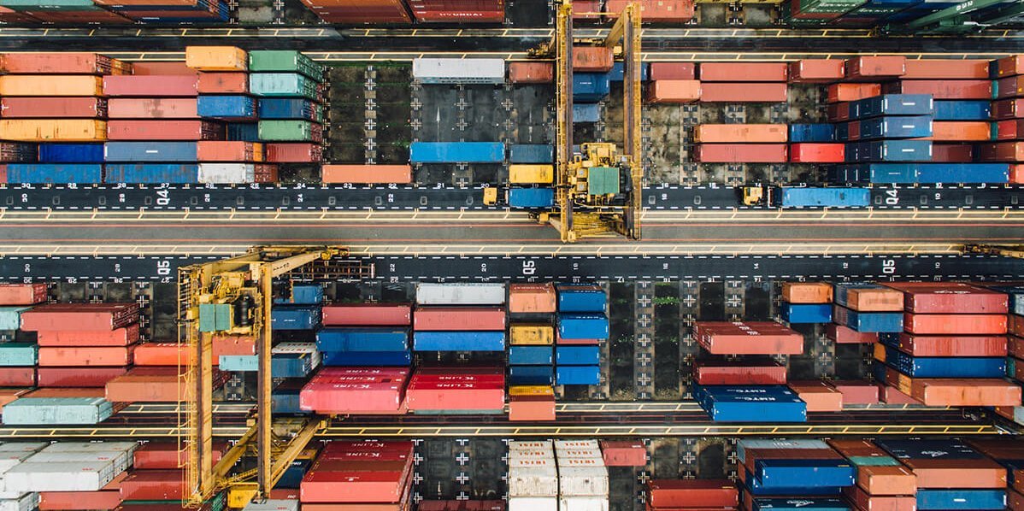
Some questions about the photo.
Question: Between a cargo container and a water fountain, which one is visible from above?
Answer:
cargo container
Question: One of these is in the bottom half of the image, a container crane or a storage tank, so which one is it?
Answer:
container crane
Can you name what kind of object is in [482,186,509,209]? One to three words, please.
truck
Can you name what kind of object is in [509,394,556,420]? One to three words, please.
shipping container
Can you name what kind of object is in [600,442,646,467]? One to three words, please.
shipping container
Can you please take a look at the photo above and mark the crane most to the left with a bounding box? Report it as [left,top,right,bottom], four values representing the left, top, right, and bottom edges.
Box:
[175,241,349,508]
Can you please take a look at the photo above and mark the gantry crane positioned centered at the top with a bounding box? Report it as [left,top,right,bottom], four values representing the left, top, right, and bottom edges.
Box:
[529,1,644,242]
